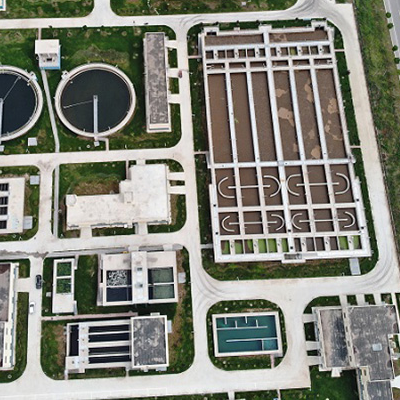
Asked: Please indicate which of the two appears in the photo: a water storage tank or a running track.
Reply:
water storage tank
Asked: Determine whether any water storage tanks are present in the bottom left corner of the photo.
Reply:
Yes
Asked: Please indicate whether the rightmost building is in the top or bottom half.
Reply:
bottom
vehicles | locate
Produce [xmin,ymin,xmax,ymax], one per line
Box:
[35,274,42,289]
[29,301,36,316]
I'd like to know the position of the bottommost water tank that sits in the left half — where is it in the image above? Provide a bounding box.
[66,320,133,378]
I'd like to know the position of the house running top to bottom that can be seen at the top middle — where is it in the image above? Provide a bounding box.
[144,32,172,133]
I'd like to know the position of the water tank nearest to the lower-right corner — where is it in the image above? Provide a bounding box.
[212,312,286,360]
